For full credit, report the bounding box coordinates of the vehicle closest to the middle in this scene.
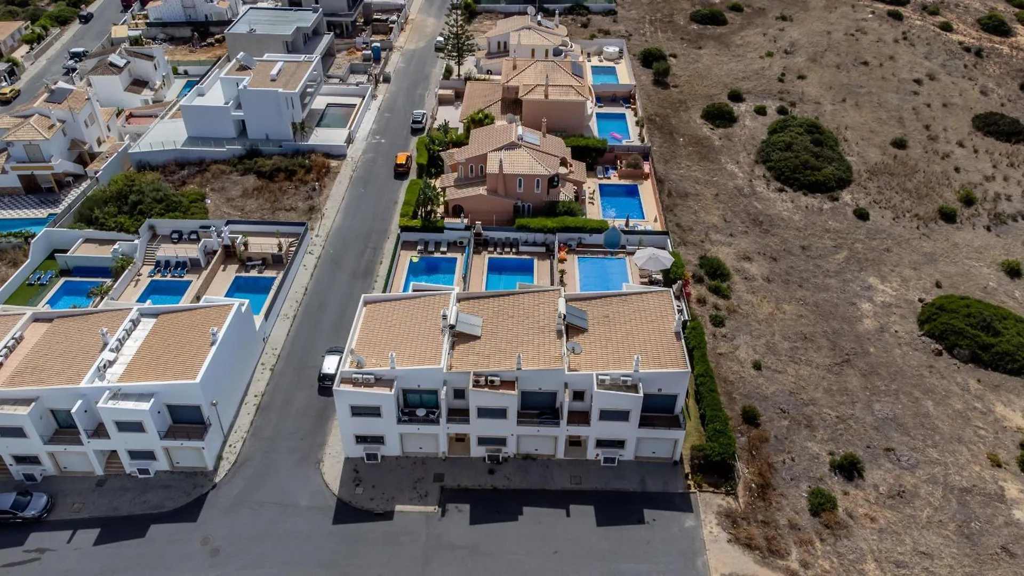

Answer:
[394,149,415,170]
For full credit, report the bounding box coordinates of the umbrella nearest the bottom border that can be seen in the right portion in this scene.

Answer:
[629,252,677,282]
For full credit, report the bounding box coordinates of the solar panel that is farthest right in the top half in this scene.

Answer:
[566,59,584,79]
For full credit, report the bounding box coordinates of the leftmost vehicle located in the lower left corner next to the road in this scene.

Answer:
[0,484,59,519]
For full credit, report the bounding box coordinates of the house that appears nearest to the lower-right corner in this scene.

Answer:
[561,281,690,472]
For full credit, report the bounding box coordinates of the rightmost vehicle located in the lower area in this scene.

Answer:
[317,346,343,384]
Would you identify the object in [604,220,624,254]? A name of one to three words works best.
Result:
umbrella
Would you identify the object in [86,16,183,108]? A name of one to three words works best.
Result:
house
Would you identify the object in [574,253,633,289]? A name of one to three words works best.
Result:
swimming pool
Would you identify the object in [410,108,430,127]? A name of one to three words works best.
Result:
car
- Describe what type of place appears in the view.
residential area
